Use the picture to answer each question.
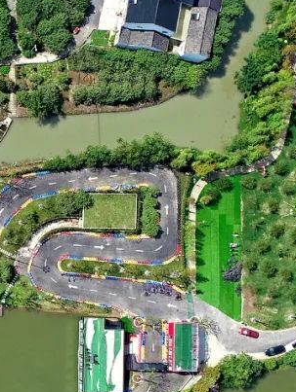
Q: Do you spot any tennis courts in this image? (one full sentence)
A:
No, the scene contains no tennis court.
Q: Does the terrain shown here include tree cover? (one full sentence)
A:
Yes, there's tree cover in this view.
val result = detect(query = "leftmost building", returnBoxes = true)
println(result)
[77,317,128,392]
